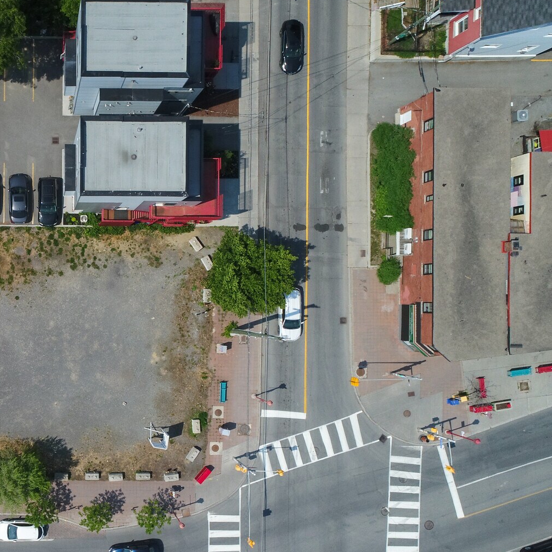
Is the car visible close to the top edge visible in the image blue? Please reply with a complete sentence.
No, the car visible close to the top edge is actually black.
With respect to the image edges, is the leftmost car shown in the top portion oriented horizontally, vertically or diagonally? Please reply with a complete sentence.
In this picture, the leftmost car shown in the top portion lies vertically.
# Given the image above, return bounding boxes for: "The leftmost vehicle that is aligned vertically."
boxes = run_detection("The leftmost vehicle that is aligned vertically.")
[7,173,32,224]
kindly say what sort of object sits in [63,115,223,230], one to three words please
house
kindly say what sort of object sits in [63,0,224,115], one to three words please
house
